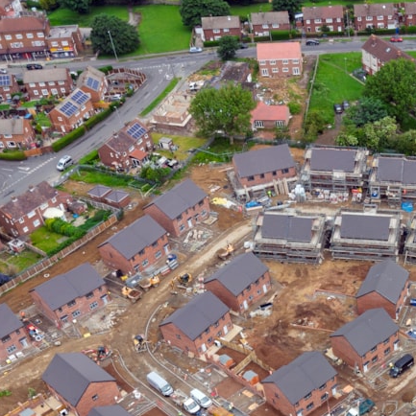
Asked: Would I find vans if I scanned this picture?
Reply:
Yes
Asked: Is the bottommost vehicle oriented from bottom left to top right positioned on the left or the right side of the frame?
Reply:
right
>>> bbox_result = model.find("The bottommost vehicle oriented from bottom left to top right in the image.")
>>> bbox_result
[346,396,375,416]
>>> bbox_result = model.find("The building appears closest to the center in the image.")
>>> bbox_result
[145,176,210,238]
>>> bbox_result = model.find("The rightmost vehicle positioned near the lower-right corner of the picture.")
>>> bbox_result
[388,347,416,377]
